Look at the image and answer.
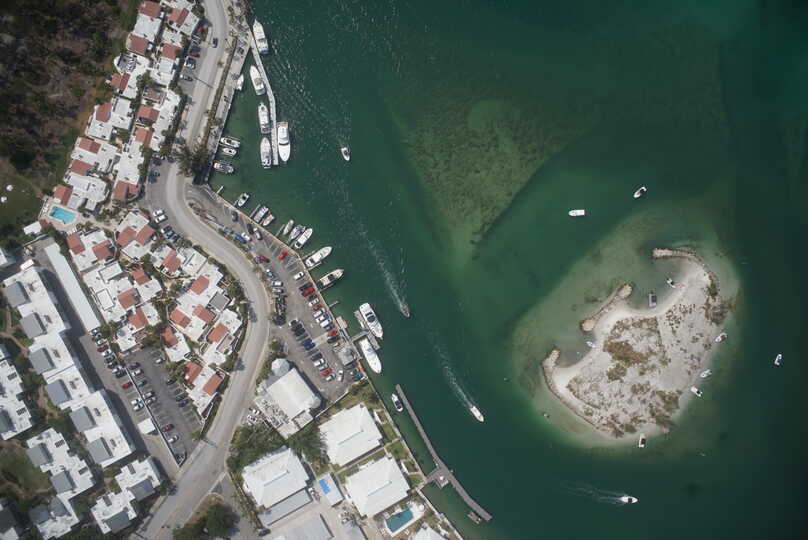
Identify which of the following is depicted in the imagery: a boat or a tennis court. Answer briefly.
boat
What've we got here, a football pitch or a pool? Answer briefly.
pool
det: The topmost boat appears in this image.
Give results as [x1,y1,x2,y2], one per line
[255,20,269,56]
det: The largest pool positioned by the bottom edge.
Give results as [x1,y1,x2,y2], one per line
[383,501,425,536]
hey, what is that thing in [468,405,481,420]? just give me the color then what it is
white boat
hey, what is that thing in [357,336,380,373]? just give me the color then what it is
white boat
